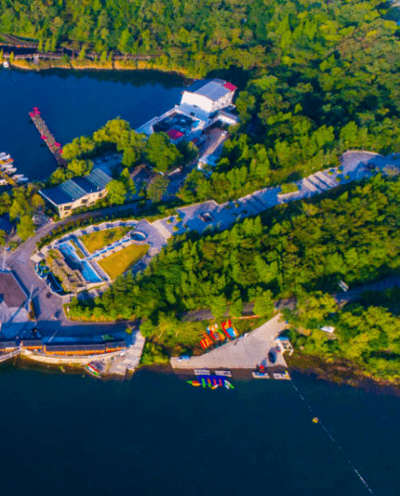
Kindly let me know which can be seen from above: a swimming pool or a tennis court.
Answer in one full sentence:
There is a swimming pool in the scene.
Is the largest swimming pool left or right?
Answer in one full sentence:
The largest swimming pool sits on the left side.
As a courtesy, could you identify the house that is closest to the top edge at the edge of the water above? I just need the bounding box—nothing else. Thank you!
[182,79,228,113]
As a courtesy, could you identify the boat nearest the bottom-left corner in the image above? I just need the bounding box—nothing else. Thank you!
[84,366,104,379]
